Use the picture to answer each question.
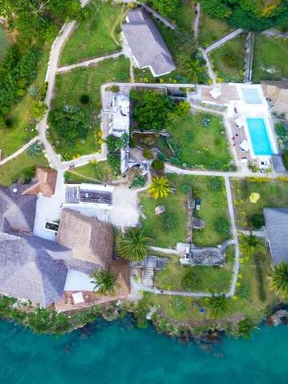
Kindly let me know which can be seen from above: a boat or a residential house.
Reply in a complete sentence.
It is a residential house that can be seen here.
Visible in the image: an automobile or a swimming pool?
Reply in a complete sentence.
There is a swimming pool in the scene.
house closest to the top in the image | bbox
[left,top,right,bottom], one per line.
[118,8,176,78]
